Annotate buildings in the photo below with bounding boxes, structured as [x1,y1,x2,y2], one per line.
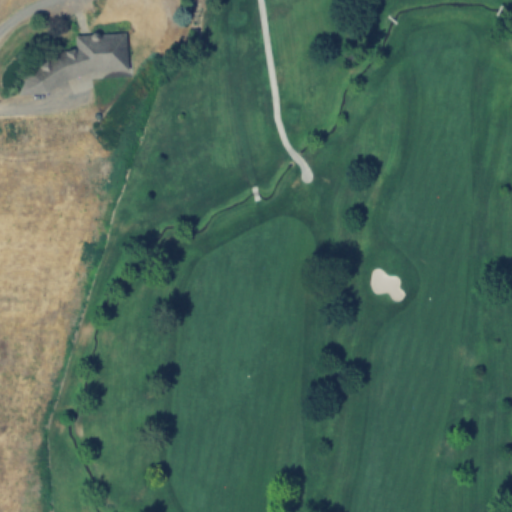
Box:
[26,32,132,92]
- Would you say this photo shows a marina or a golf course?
golf course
